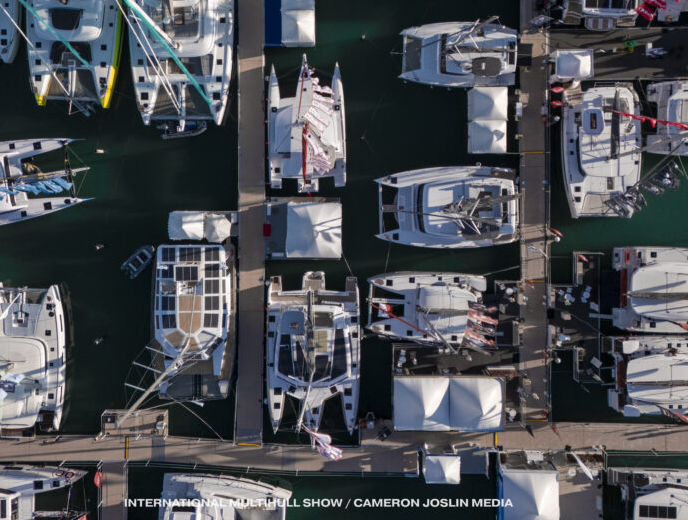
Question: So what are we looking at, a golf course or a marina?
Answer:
marina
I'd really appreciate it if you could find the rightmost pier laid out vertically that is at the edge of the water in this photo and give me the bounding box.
[549,252,607,383]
